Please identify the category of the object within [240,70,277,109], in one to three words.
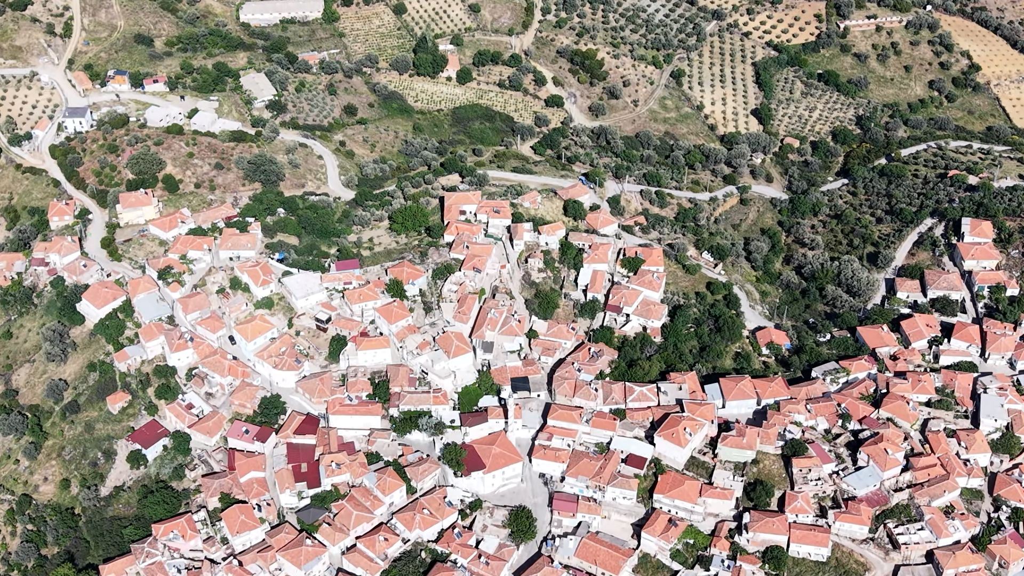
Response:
barn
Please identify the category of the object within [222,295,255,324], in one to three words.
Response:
shed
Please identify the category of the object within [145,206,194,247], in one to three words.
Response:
house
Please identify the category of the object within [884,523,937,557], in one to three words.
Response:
building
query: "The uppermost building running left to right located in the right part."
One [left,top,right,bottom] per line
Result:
[838,16,903,32]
